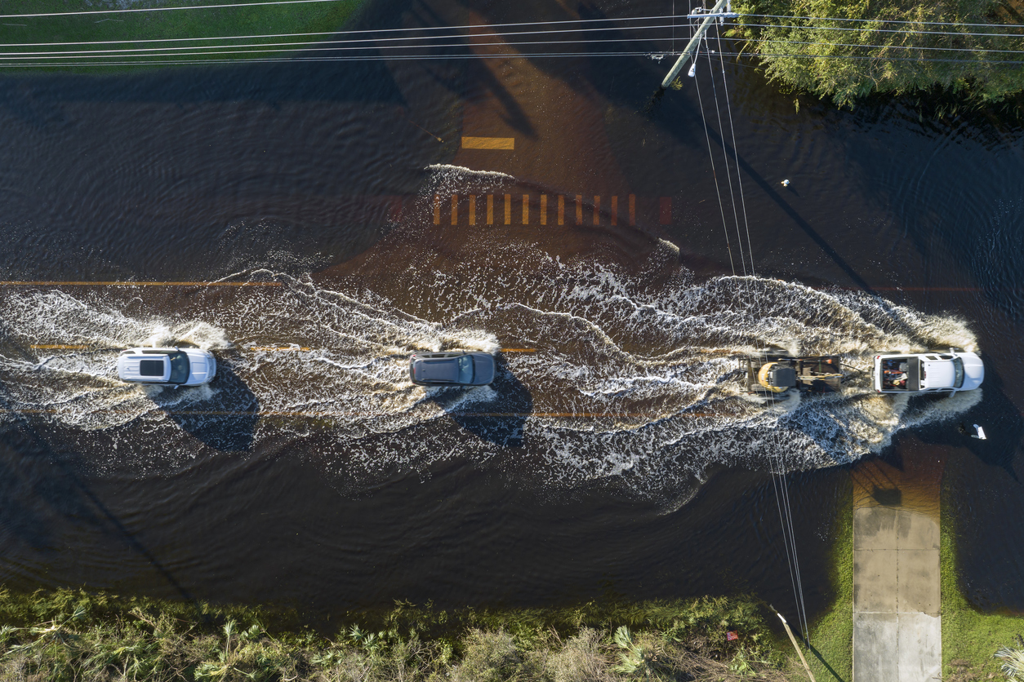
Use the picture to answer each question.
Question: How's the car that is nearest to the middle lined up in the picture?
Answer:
horizontally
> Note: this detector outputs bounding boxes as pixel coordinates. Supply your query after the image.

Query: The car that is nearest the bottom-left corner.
[119,345,218,391]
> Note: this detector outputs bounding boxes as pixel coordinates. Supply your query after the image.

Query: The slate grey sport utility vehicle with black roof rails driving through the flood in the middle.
[409,347,496,391]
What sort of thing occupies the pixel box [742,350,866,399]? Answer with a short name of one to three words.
trailer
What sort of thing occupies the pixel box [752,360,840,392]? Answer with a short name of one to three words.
work vehicle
